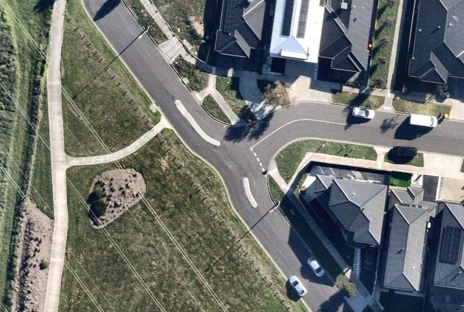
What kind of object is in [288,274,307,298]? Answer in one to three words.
car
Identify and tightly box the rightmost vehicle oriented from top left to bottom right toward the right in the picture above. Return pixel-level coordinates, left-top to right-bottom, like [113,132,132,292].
[307,256,326,277]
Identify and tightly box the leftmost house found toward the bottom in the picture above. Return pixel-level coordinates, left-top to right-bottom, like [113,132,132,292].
[313,174,389,245]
